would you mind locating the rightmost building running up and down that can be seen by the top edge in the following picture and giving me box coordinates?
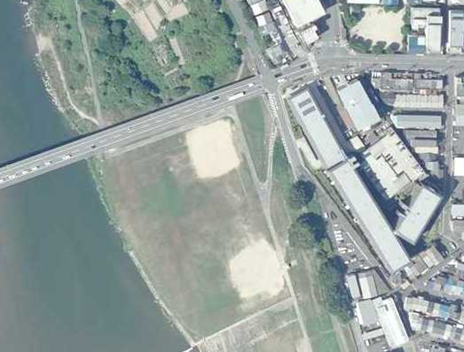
[446,10,464,49]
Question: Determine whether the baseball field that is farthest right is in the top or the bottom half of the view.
bottom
